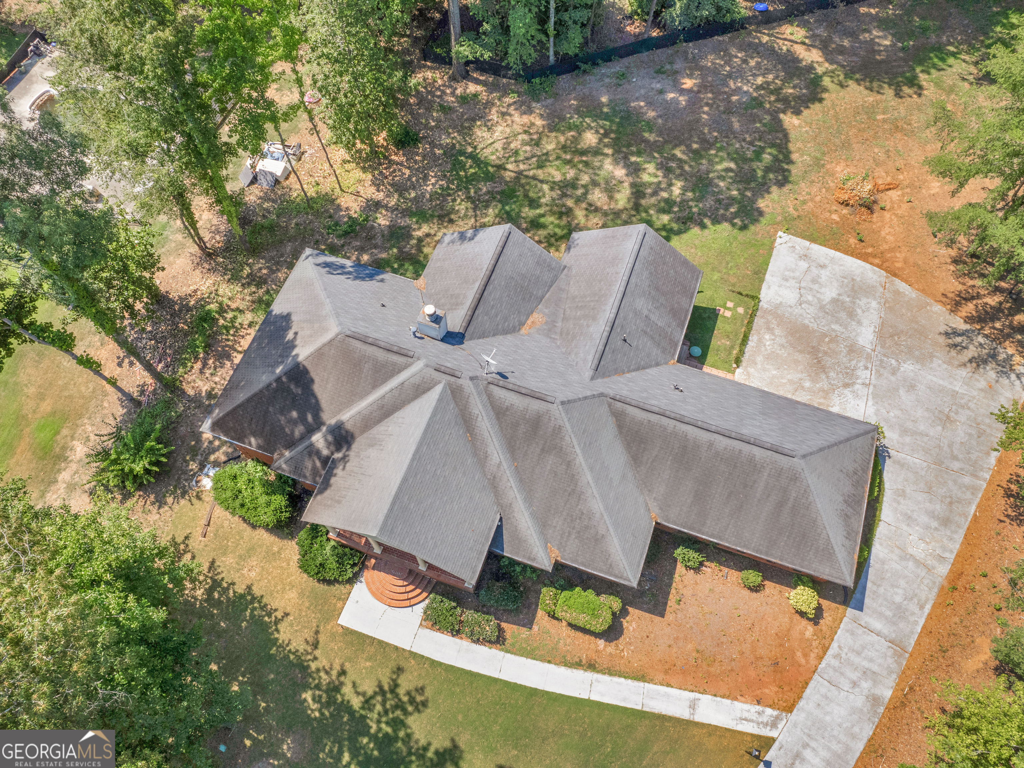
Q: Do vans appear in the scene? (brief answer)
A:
No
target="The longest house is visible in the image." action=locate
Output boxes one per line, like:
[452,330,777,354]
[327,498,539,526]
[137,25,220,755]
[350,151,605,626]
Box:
[199,223,880,591]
